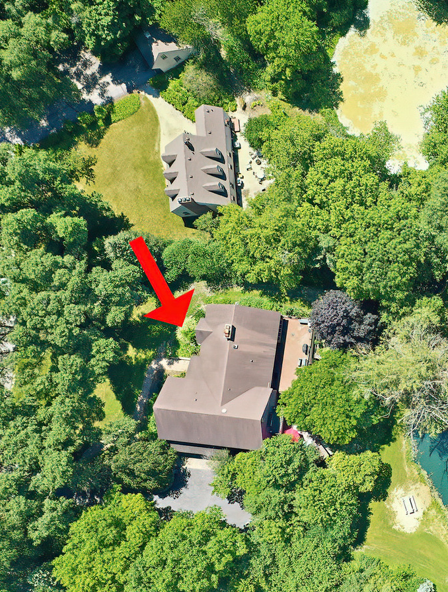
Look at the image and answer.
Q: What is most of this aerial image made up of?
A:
trees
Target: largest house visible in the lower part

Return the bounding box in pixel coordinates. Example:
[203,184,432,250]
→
[150,301,291,461]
